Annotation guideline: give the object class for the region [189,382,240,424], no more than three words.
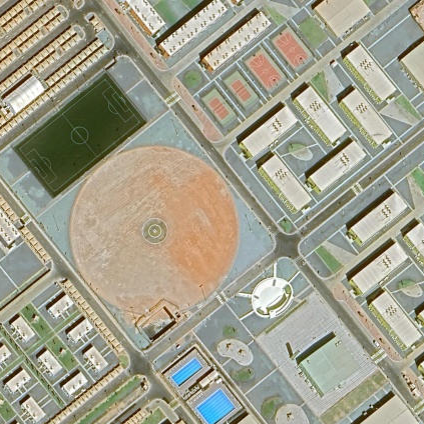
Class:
swimming pool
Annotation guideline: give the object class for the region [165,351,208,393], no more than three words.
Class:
swimming pool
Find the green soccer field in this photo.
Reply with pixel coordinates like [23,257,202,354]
[13,72,147,197]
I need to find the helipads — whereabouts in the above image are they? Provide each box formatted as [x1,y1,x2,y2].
[143,218,168,244]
